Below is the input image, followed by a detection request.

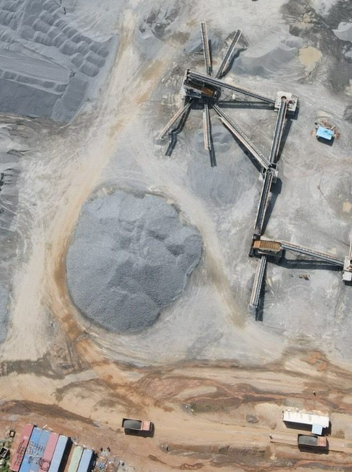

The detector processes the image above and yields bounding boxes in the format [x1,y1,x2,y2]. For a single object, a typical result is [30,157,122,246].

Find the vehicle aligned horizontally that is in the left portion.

[122,420,155,433]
